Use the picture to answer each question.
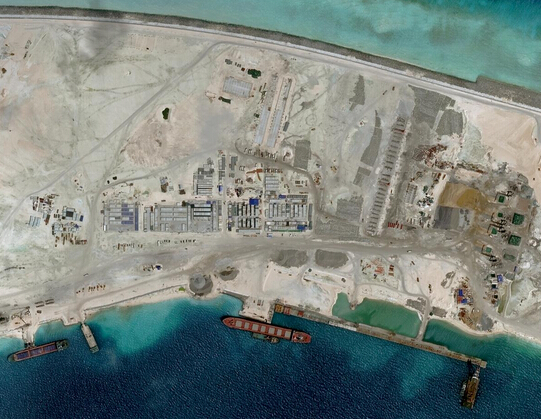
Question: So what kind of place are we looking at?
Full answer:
What you see here is a port.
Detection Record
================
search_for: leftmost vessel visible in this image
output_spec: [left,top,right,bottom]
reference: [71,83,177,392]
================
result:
[8,341,68,361]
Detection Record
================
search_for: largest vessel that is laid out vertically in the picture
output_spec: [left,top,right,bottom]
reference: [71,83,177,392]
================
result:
[464,368,480,408]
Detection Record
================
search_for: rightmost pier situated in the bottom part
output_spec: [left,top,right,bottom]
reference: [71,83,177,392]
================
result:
[274,301,487,369]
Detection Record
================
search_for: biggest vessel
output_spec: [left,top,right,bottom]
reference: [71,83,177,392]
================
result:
[221,311,312,344]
